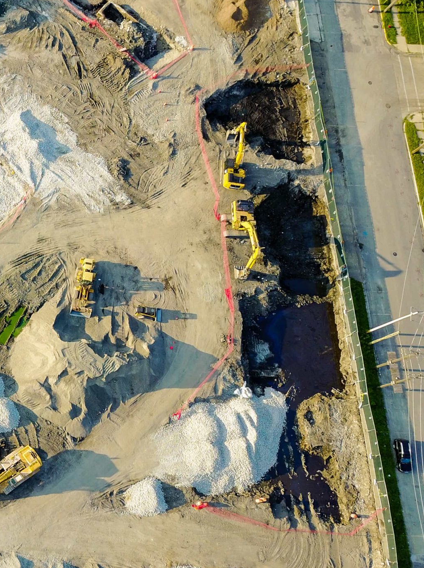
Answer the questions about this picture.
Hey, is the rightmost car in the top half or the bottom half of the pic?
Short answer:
bottom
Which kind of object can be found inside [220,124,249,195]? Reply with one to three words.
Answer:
work vehicle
